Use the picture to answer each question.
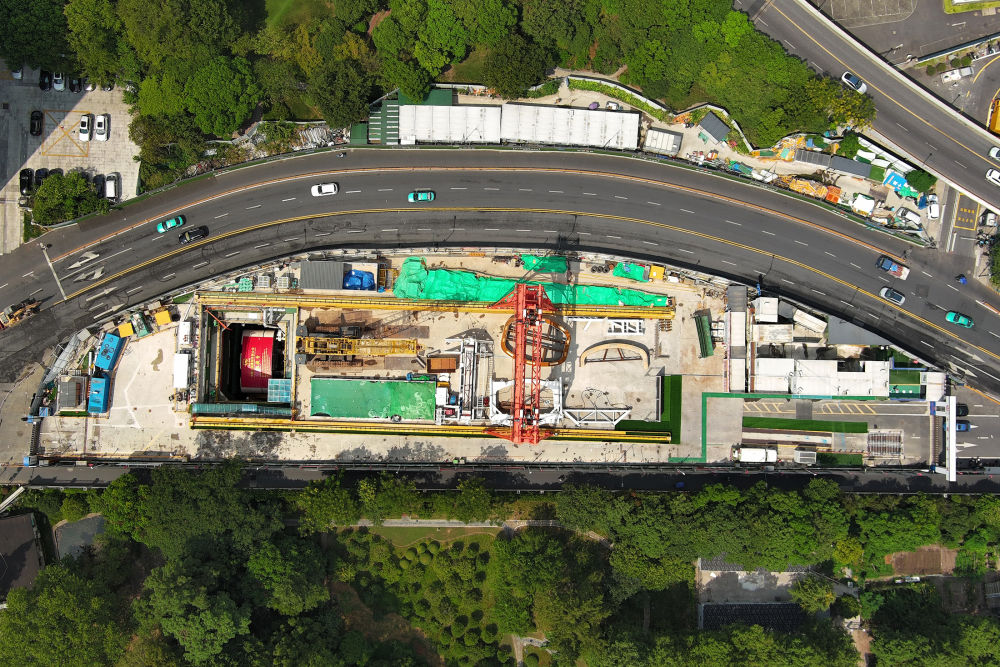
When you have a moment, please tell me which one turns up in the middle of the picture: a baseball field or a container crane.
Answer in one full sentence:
You can see a container crane in the middle of the picture.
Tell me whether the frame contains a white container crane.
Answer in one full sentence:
No, I can see no white container crane in this picture.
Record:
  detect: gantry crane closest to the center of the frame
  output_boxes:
[486,283,562,443]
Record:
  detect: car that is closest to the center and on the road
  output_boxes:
[407,188,435,201]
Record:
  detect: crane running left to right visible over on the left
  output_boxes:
[296,325,422,371]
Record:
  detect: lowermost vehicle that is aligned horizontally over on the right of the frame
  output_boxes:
[740,448,779,465]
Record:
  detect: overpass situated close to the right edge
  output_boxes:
[704,0,1000,216]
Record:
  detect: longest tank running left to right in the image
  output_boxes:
[310,377,437,424]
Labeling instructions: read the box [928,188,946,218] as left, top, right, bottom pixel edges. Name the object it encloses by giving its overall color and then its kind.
white vehicle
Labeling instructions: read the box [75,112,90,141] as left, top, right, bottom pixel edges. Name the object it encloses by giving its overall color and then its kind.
white car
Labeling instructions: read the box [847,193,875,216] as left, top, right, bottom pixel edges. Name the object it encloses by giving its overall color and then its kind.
white gazebo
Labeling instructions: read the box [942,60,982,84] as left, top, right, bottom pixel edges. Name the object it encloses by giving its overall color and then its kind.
white truck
